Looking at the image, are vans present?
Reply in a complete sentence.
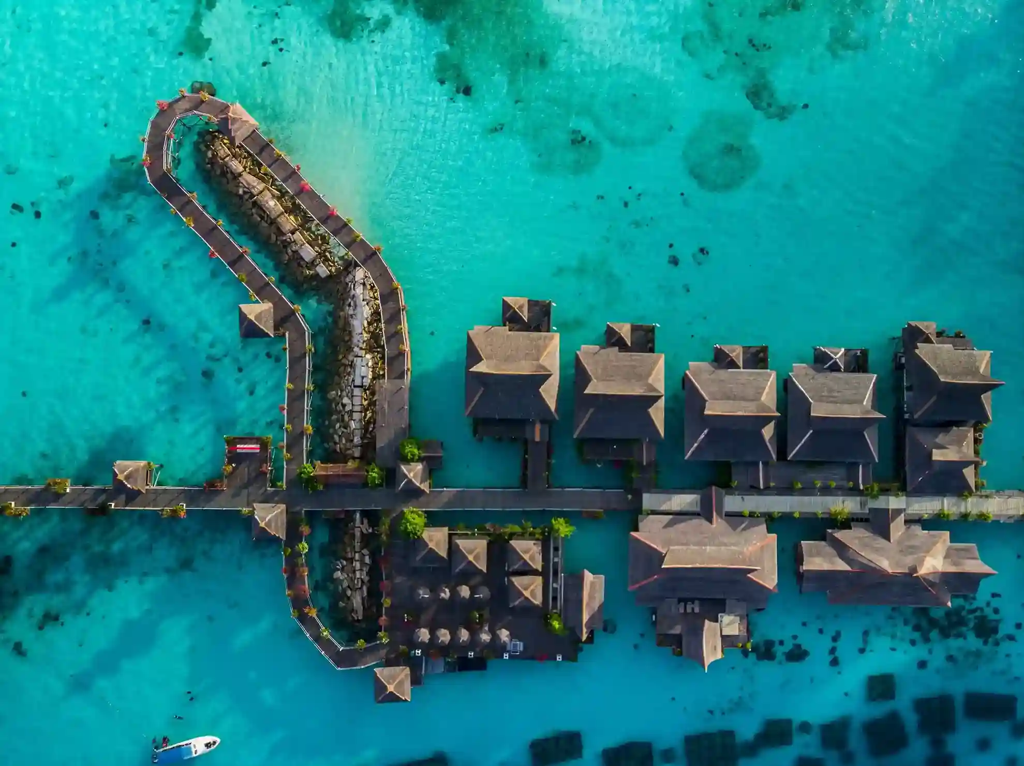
No, no van can be seen from above.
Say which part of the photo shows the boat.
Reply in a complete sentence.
You can find the boat in the bottom left area of the picture.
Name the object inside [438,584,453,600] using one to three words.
umbrella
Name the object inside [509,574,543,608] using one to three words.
gazebo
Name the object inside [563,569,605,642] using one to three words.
shed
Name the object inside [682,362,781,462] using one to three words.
house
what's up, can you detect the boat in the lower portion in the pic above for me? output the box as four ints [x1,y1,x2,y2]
[149,737,220,766]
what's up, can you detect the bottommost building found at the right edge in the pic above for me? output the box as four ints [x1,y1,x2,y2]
[795,508,999,608]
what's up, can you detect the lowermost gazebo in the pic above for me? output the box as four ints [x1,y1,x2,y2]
[373,660,412,704]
